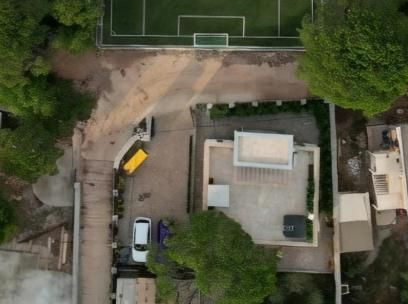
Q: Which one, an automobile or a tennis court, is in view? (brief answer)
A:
automobile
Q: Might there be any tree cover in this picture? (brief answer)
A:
Yes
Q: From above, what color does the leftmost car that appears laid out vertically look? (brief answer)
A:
white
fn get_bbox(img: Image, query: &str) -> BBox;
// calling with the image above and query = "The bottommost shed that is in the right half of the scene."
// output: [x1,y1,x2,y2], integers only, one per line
[341,189,375,254]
